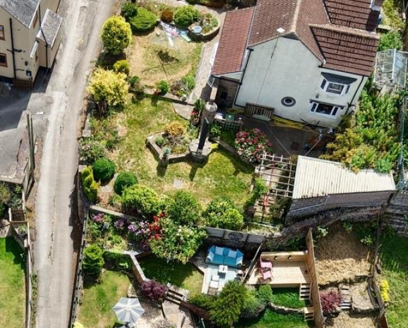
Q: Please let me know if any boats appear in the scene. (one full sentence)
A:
No, the frame has no boat in it.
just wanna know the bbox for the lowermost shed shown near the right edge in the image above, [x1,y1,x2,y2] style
[284,156,394,218]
